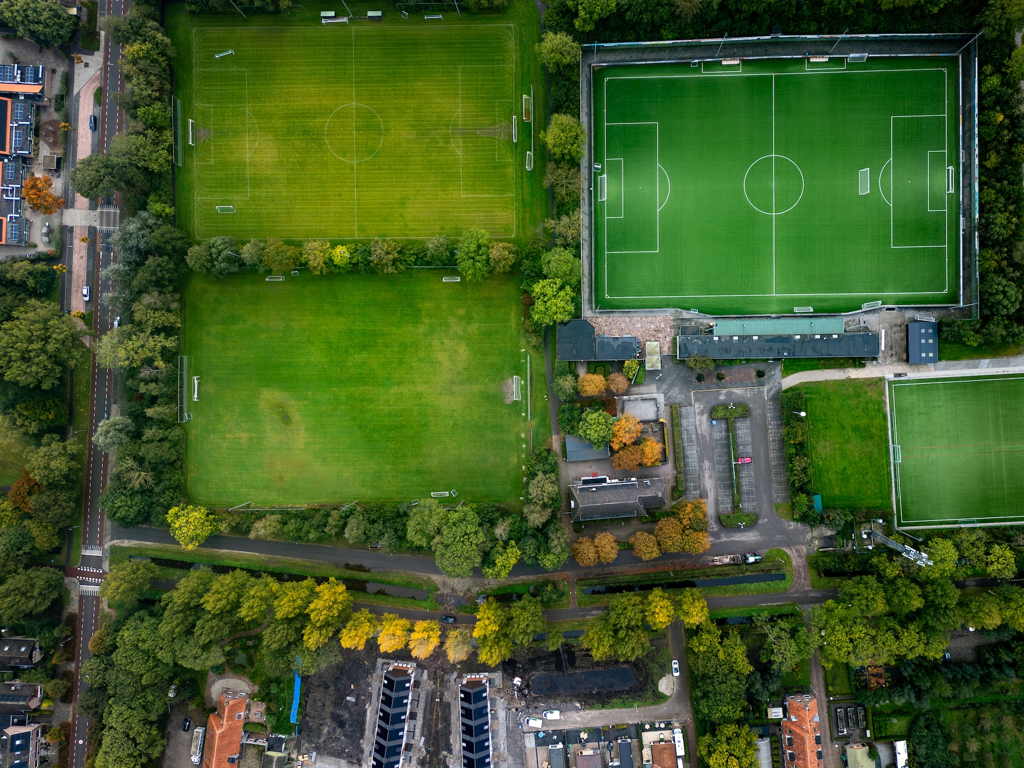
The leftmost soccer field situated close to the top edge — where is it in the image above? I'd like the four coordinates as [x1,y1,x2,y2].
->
[165,0,546,245]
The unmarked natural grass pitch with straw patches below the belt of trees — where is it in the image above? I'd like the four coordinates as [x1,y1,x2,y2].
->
[183,267,553,512]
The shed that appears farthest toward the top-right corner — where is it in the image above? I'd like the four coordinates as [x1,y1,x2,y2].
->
[903,322,938,363]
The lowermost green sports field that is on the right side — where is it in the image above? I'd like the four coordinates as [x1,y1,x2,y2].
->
[889,371,1024,527]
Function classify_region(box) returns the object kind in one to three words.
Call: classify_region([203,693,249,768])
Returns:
house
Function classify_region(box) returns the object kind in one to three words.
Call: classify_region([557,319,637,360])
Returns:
building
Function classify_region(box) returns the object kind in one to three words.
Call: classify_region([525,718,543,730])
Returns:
vehicle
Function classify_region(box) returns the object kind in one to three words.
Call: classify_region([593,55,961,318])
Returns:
soccer field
